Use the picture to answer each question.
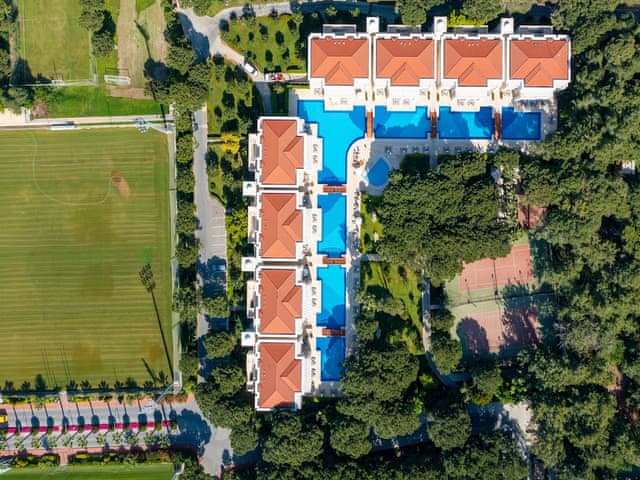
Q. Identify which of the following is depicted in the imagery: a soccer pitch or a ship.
soccer pitch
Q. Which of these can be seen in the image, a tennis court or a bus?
tennis court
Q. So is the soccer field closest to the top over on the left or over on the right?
left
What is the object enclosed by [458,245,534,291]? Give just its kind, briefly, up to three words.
tennis court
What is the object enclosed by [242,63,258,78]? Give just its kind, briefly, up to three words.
car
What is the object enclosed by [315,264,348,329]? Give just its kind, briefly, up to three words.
swimming pool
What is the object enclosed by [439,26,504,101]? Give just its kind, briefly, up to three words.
house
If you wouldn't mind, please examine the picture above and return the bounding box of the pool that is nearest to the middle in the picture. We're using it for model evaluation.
[316,192,348,258]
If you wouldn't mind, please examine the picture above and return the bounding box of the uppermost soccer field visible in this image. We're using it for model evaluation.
[0,0,92,86]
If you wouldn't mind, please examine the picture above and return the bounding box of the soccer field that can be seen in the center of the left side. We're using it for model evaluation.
[0,128,174,388]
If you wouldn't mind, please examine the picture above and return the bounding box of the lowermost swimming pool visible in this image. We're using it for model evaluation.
[315,336,346,382]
